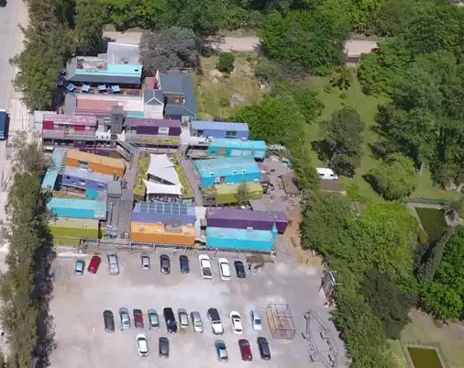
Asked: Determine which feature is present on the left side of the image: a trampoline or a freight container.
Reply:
freight container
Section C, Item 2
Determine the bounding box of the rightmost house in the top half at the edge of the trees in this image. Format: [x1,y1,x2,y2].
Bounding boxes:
[158,68,198,128]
